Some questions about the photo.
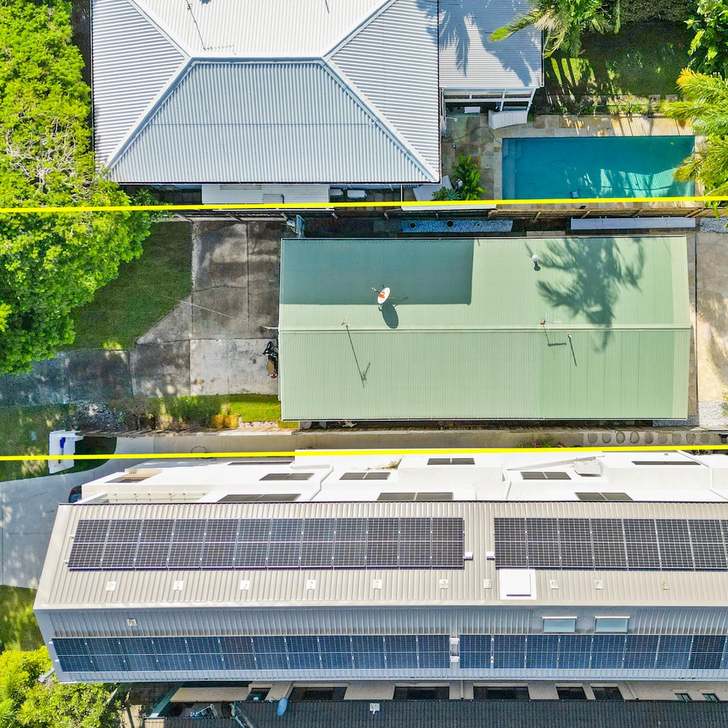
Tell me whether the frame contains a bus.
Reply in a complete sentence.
No, I find no bus anywhere in the image.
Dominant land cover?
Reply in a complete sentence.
Most of the picture is covered by buildings.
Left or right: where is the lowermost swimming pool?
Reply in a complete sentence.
The lowermost swimming pool is on the right side of the image.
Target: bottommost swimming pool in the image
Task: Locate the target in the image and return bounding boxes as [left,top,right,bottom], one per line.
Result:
[502,137,695,200]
